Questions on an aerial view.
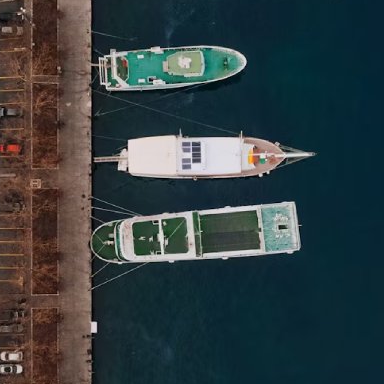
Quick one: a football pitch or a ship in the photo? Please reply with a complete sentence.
The one in the frame is a ship.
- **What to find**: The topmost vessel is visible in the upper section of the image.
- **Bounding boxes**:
[90,46,247,92]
